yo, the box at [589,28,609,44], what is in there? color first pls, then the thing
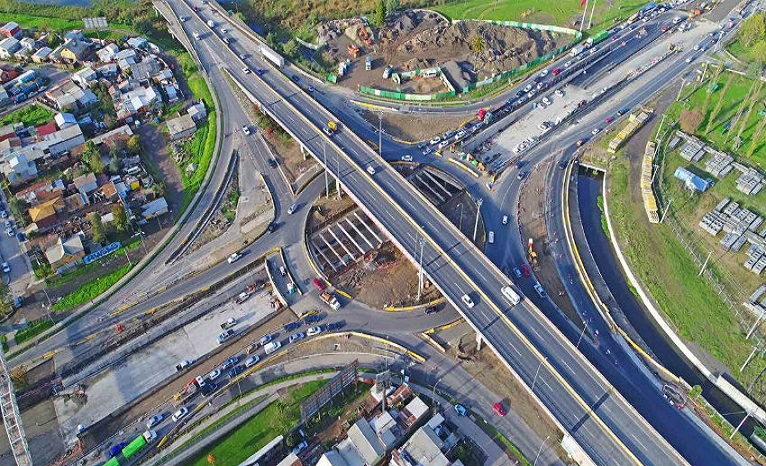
green vehicle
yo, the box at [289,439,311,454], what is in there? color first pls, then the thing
blue vehicle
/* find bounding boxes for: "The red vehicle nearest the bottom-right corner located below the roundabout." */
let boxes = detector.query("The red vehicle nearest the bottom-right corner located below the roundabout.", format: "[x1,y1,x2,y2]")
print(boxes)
[494,401,506,416]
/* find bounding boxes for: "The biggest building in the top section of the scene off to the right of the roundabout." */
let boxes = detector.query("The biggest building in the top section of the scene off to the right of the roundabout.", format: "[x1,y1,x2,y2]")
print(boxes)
[672,165,710,192]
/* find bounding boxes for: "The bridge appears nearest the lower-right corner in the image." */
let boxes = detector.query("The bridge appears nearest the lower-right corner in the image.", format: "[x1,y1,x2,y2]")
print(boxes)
[714,376,766,425]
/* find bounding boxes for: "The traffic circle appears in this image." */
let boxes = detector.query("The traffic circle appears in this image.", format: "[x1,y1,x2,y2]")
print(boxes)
[264,130,540,360]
